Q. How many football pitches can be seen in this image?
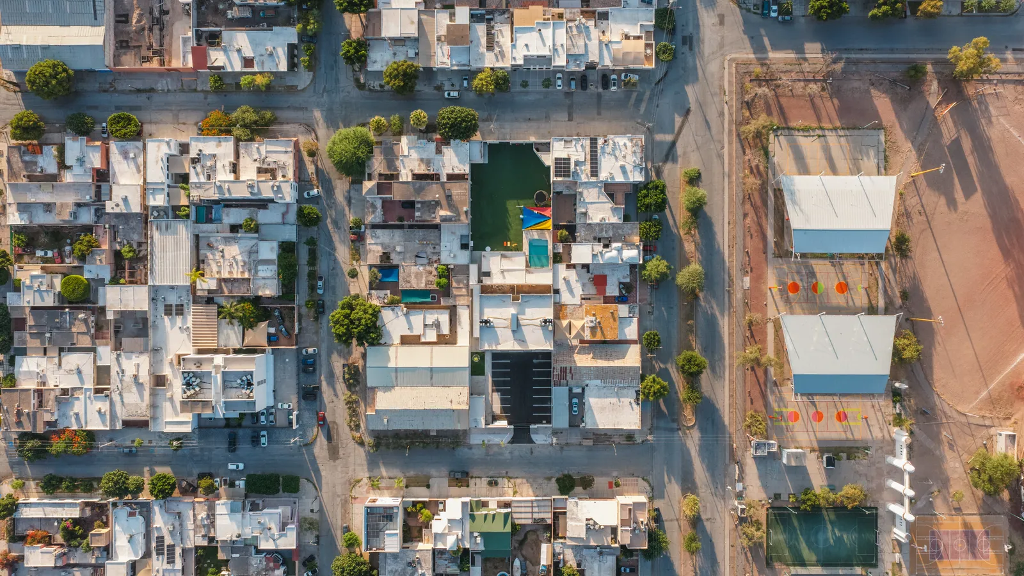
1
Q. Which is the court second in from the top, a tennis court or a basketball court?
basketball court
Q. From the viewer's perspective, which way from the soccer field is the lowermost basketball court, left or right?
on the right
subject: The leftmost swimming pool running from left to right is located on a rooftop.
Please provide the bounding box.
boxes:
[401,290,431,302]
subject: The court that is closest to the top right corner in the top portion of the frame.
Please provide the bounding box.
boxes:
[771,127,886,177]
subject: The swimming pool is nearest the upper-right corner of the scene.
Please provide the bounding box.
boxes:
[529,239,549,269]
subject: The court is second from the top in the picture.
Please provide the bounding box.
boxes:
[773,260,887,314]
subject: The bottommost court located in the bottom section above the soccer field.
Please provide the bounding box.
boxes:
[773,396,887,441]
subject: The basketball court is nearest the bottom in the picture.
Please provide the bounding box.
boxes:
[910,515,1006,576]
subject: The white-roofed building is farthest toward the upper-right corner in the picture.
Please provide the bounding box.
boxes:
[770,172,906,260]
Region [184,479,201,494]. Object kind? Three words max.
vehicle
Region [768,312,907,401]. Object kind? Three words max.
building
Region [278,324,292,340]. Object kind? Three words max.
car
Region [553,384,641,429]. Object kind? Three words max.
house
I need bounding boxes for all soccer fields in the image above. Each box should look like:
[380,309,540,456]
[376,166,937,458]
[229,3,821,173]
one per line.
[767,507,878,568]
